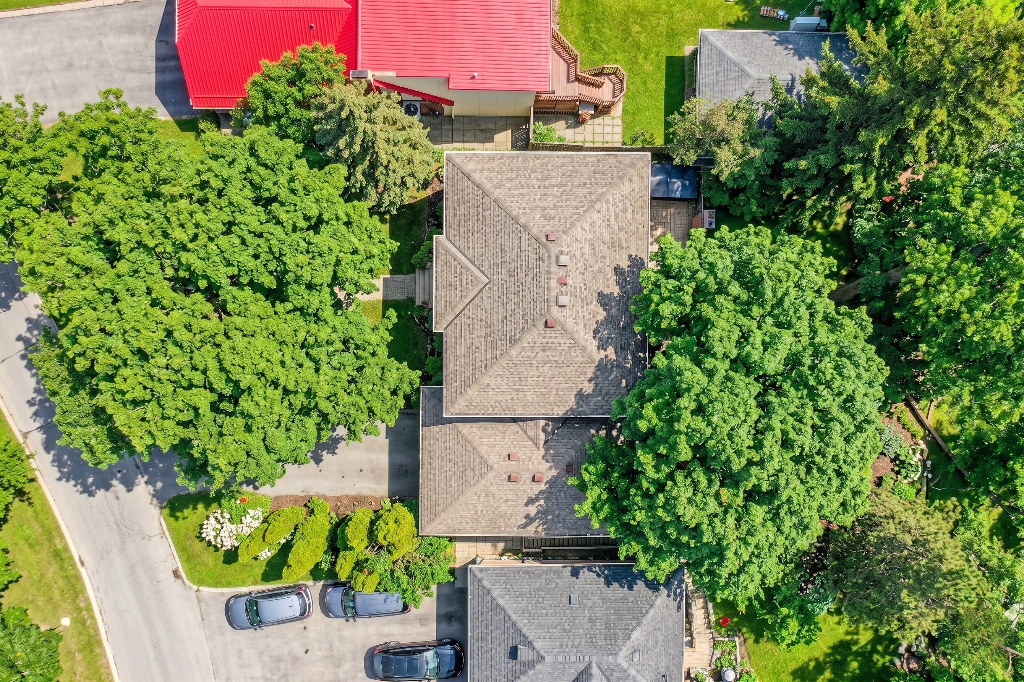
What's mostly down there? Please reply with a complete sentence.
What you mostly see from above here is trees.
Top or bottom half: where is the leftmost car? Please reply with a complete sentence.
The bottom half of the photo is where the leftmost car is.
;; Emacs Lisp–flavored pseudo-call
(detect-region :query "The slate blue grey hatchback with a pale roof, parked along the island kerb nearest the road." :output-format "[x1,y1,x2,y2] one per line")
[227,583,317,636]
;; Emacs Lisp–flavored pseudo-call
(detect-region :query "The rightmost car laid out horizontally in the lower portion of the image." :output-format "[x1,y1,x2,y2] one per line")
[372,637,463,682]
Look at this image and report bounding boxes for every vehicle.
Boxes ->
[372,637,463,682]
[227,583,317,636]
[323,579,415,627]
